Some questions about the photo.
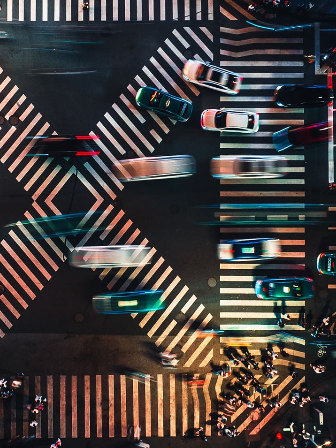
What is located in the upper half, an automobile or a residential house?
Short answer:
automobile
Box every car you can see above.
[126,154,186,183]
[102,288,159,315]
[272,119,336,152]
[182,59,243,93]
[317,253,336,275]
[200,106,259,134]
[135,87,193,121]
[273,81,335,110]
[218,153,279,181]
[39,131,93,159]
[219,235,277,263]
[255,275,312,303]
